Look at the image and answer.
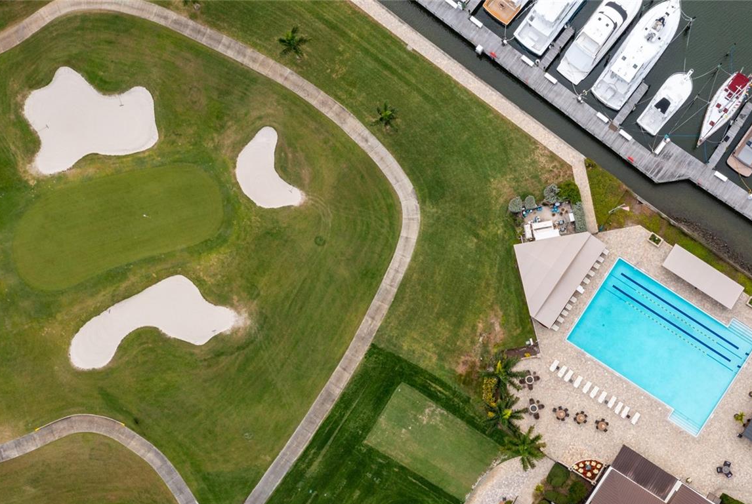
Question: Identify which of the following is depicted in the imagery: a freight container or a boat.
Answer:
boat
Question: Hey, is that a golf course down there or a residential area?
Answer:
golf course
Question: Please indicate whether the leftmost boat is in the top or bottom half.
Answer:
top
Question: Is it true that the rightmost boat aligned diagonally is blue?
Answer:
No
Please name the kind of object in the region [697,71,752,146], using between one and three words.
boat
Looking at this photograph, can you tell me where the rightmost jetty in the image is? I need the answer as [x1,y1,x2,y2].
[707,101,752,169]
